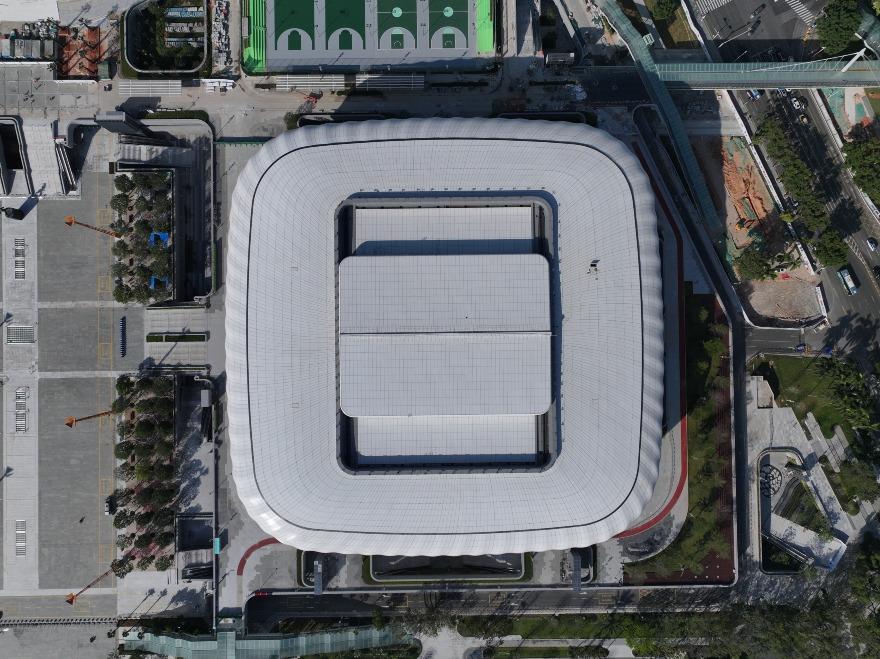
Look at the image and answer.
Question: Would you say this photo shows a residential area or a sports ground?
sports ground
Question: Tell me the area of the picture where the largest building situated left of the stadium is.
bottom left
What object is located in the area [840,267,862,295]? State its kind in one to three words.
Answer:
bus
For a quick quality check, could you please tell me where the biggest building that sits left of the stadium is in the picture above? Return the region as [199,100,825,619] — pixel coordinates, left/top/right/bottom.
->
[176,515,215,581]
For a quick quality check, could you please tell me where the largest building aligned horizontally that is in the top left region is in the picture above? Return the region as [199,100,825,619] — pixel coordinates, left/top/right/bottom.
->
[95,111,142,132]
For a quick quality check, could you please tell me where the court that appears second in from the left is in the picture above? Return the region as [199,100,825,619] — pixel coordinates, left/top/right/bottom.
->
[326,0,365,50]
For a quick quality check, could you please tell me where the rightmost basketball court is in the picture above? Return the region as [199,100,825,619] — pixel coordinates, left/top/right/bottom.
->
[429,0,468,50]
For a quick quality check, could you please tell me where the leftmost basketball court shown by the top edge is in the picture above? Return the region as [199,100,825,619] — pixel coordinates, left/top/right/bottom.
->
[274,0,314,50]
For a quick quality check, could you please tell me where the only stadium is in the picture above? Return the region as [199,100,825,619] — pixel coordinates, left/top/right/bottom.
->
[225,119,663,555]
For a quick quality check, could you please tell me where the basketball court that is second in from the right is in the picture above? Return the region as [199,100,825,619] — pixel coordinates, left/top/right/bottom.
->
[377,0,417,50]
